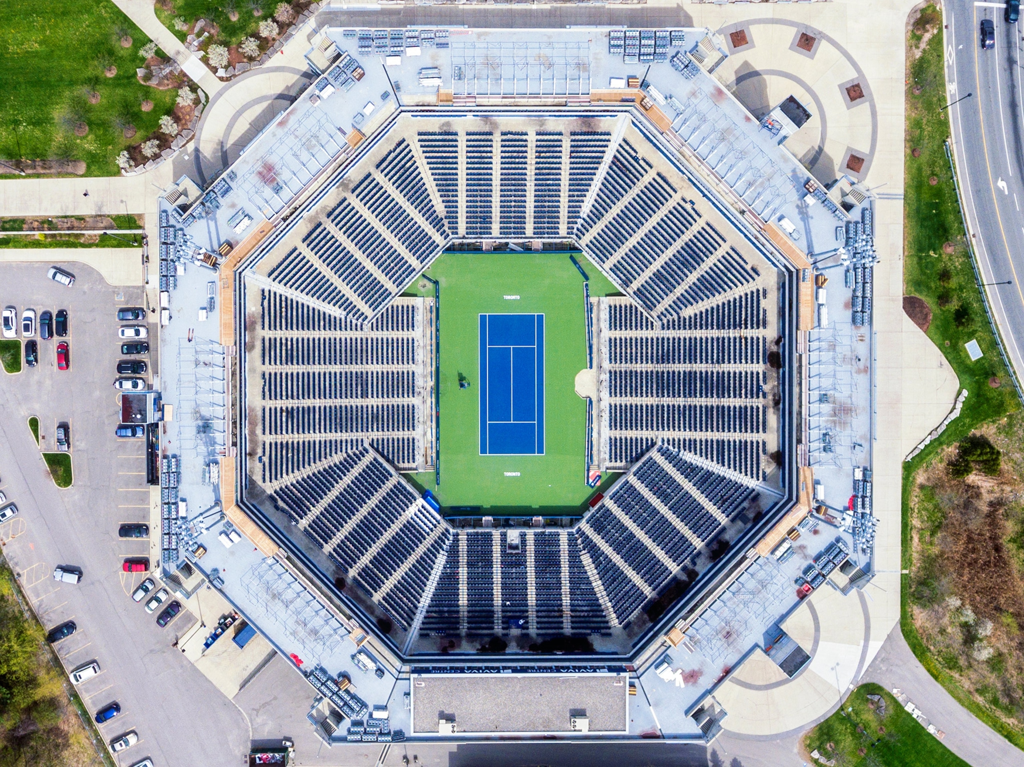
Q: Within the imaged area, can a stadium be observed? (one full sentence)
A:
Yes, this view includes a stadium.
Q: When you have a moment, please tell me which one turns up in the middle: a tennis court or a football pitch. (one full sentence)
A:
Looking in the middle, you will find a tennis court.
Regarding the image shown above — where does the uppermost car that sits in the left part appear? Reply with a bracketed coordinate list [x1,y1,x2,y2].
[46,267,78,286]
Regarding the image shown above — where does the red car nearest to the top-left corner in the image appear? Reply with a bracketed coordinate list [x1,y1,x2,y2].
[55,341,70,371]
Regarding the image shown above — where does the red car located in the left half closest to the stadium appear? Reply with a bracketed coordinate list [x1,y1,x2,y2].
[122,559,151,574]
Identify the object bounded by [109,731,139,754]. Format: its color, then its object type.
white car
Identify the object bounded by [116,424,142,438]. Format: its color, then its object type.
blue car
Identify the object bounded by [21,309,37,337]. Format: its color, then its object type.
white car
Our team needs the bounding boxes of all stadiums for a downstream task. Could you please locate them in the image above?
[155,24,872,746]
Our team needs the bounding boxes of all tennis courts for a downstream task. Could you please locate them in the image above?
[398,240,629,528]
